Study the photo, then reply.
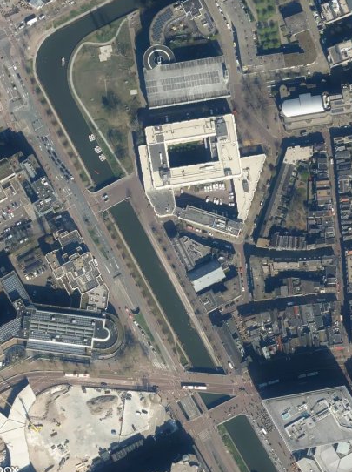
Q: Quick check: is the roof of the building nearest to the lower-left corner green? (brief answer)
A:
No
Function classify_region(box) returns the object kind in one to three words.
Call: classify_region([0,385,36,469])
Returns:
building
